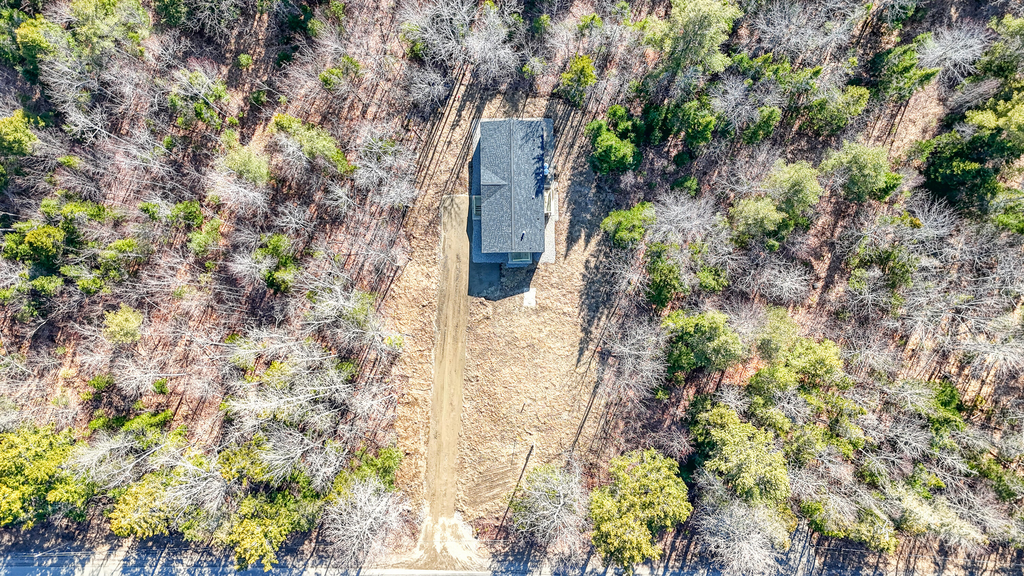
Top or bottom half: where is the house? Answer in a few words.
top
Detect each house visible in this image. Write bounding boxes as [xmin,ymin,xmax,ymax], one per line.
[480,120,545,253]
